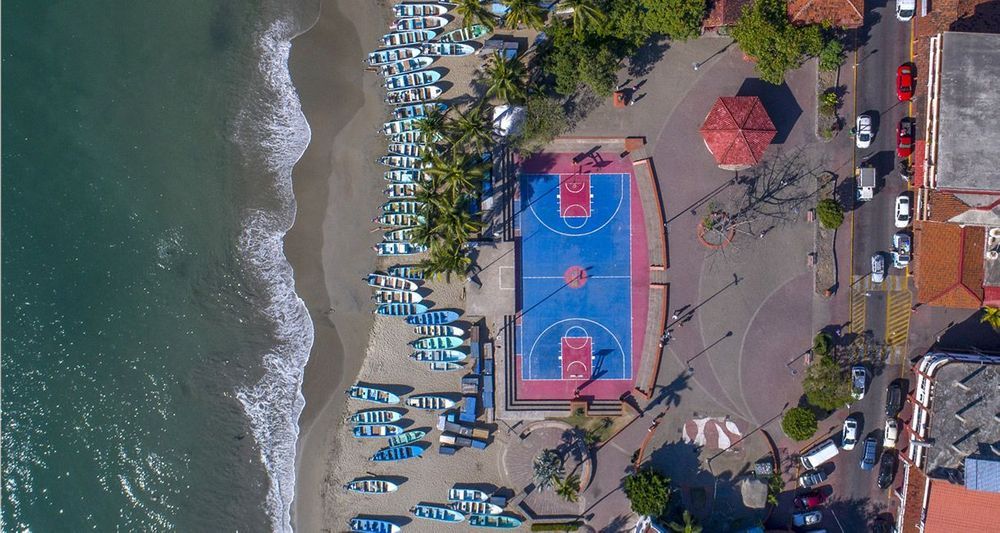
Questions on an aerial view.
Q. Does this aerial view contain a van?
Yes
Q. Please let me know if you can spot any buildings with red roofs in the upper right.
Yes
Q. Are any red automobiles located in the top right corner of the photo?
Yes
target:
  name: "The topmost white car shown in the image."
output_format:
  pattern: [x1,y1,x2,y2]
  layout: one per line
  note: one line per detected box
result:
[896,0,917,23]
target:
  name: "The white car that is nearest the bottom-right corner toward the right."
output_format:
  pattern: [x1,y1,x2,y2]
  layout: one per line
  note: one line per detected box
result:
[882,417,898,448]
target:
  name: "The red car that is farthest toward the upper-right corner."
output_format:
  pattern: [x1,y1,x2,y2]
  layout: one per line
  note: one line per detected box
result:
[895,65,915,102]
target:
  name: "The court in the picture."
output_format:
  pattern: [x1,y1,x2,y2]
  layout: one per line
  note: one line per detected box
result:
[512,152,650,401]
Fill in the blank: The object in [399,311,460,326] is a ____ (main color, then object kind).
blue boat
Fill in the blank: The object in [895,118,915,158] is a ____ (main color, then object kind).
red car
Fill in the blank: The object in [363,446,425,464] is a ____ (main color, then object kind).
blue boat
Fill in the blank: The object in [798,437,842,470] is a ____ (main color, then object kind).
white van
